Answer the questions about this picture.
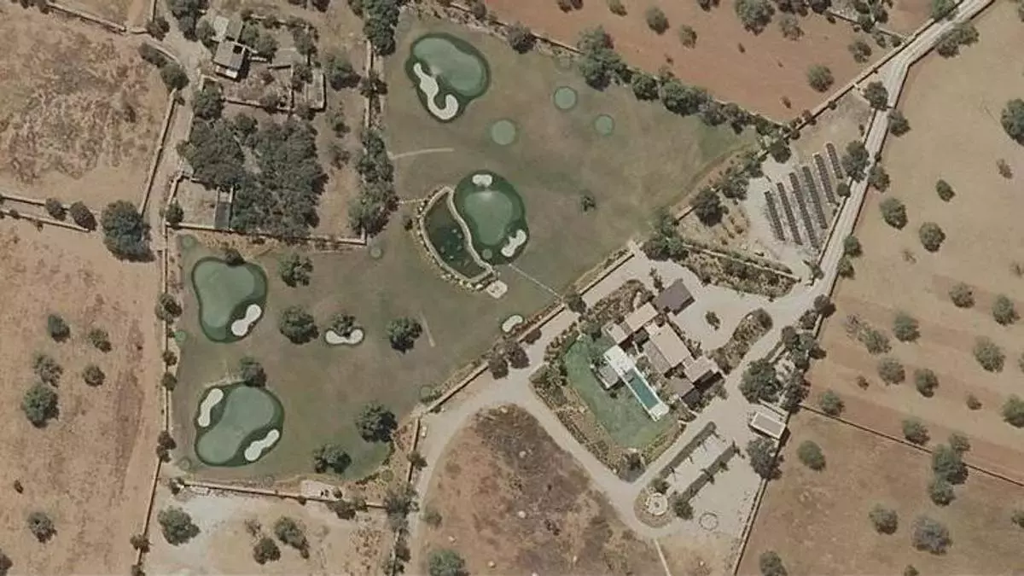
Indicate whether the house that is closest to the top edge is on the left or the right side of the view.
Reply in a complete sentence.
The house that is closest to the top edge sits on the left side.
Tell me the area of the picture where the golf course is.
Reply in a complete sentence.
The golf course is in the center part of the image.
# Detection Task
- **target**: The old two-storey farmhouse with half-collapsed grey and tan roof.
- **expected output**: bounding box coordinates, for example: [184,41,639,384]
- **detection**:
[212,40,245,78]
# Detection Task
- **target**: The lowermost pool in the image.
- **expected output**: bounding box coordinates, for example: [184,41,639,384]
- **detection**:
[607,345,670,421]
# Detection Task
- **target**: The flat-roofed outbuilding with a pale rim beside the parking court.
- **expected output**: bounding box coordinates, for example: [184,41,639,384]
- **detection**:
[752,413,785,439]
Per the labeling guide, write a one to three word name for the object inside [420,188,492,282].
pond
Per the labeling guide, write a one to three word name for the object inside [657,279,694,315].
building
